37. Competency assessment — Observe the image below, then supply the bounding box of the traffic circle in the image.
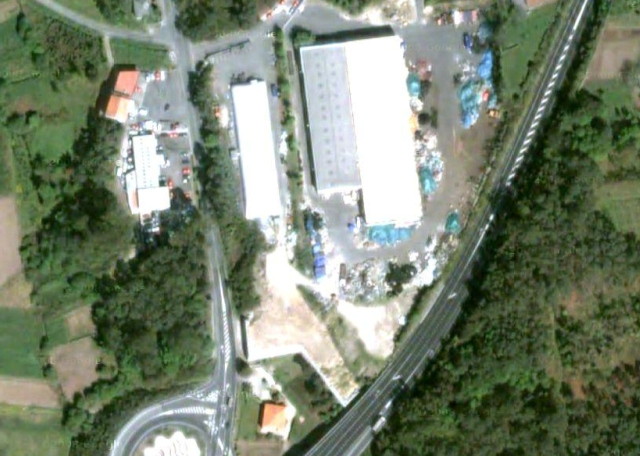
[114,402,234,456]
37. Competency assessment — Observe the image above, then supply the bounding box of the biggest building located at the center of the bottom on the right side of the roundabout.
[261,403,286,432]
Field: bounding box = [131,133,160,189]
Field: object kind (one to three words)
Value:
building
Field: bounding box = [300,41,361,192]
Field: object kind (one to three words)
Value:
building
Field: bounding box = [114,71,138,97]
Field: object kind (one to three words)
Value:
house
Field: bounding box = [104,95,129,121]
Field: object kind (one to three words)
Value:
house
